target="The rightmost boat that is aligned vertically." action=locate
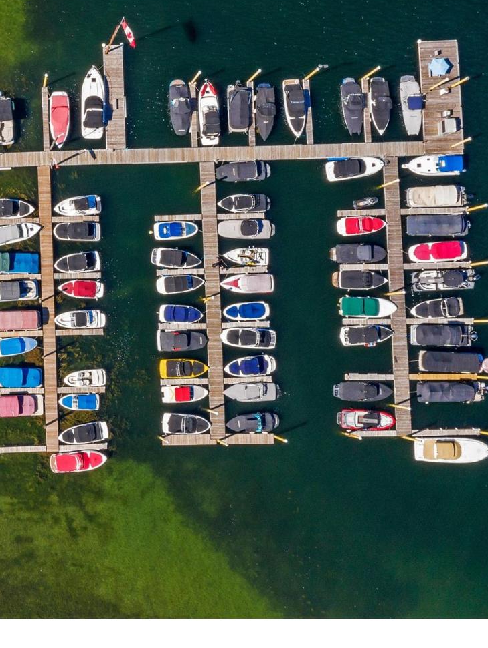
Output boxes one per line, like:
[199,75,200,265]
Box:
[397,76,425,138]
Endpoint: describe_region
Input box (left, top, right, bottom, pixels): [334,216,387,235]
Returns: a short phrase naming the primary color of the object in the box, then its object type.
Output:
red boat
